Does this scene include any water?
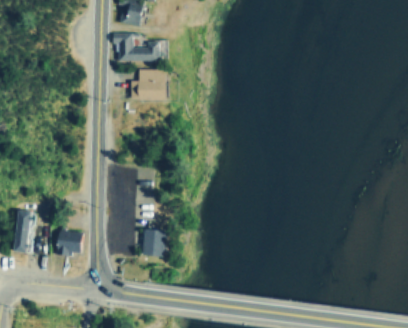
Yes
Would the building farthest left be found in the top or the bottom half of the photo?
bottom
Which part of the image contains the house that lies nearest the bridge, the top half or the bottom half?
bottom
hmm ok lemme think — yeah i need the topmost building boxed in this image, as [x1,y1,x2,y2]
[118,0,144,26]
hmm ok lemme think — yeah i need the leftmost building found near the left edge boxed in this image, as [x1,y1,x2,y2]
[14,209,38,252]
